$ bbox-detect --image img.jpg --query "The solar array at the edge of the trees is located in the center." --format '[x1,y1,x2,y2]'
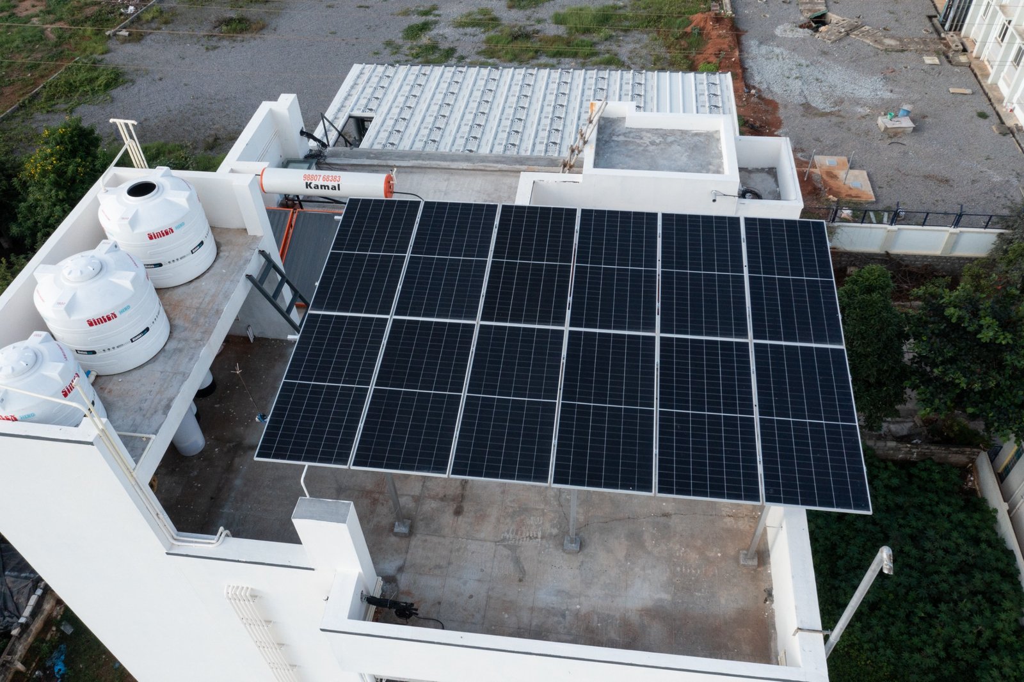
[256,198,872,571]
